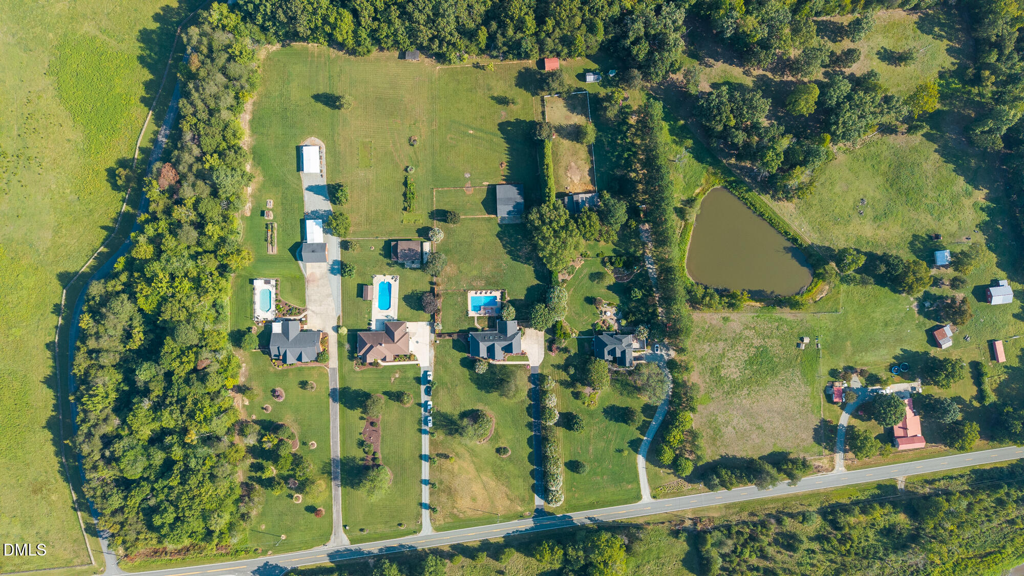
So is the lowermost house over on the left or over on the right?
right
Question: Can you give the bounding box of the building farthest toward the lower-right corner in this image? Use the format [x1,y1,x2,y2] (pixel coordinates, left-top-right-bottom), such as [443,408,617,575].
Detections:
[894,399,929,453]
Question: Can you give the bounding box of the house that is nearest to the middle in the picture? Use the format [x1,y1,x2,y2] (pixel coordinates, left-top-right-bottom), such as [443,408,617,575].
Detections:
[470,321,521,360]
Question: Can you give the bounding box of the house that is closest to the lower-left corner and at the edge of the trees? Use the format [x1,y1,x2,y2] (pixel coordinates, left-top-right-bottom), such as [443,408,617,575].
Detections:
[269,321,323,364]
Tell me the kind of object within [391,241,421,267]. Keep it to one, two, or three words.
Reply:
shed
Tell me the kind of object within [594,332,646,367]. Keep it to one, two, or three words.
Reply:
house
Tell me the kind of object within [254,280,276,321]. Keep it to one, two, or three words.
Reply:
swimming pool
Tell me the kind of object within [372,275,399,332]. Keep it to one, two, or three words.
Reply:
swimming pool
